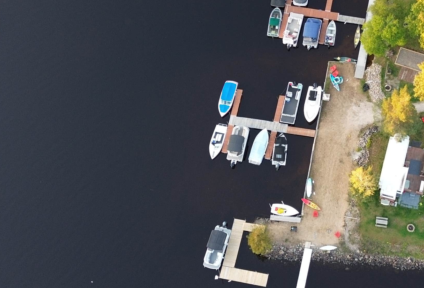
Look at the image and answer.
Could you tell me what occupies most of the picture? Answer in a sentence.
Most of the picture is covered by water.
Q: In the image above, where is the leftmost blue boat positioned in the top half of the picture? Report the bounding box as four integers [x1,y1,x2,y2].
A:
[218,80,237,117]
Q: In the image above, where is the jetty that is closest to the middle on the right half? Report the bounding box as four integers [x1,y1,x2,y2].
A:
[221,89,316,162]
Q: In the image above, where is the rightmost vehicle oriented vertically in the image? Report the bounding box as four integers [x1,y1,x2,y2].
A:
[378,135,411,202]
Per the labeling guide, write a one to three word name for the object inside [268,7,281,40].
boat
